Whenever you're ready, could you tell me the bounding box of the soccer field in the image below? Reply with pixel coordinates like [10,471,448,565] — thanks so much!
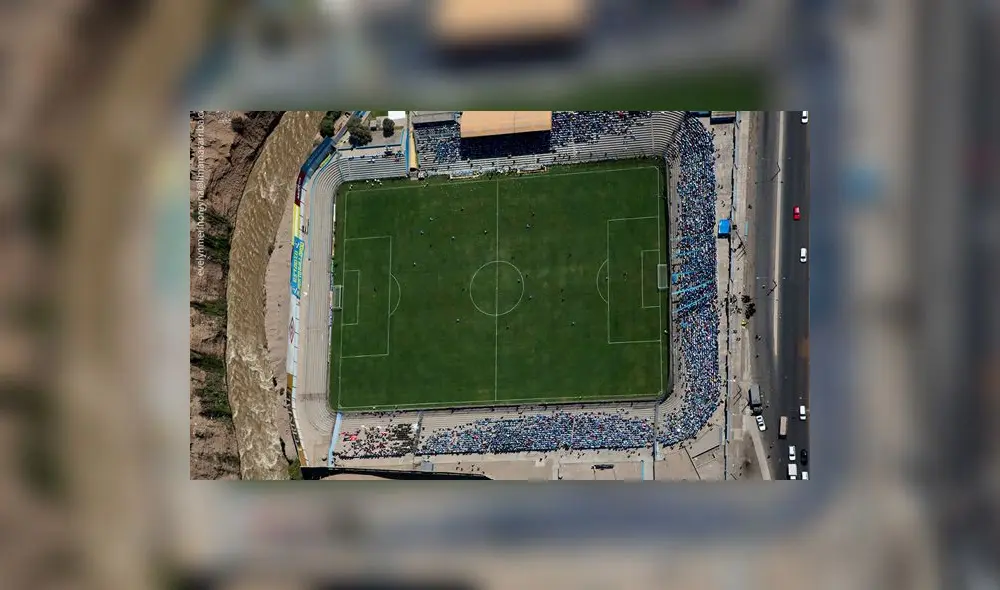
[328,159,672,411]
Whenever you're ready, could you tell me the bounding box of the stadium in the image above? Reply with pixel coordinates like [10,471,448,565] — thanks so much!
[305,78,720,471]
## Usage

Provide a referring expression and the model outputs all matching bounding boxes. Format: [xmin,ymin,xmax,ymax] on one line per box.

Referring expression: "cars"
[794,206,801,221]
[800,404,806,420]
[788,445,796,461]
[801,449,808,466]
[802,470,808,486]
[757,414,766,432]
[800,247,807,263]
[802,109,808,124]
